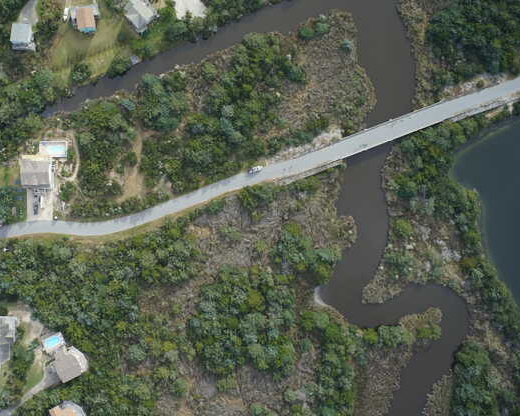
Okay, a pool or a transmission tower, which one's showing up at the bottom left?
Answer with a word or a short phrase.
pool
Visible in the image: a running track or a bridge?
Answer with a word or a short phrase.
bridge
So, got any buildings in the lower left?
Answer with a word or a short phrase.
Yes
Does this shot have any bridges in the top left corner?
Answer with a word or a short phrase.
No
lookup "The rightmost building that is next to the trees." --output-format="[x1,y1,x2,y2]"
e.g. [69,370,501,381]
[123,0,158,33]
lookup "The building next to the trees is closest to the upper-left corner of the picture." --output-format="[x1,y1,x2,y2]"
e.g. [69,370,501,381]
[11,24,35,51]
